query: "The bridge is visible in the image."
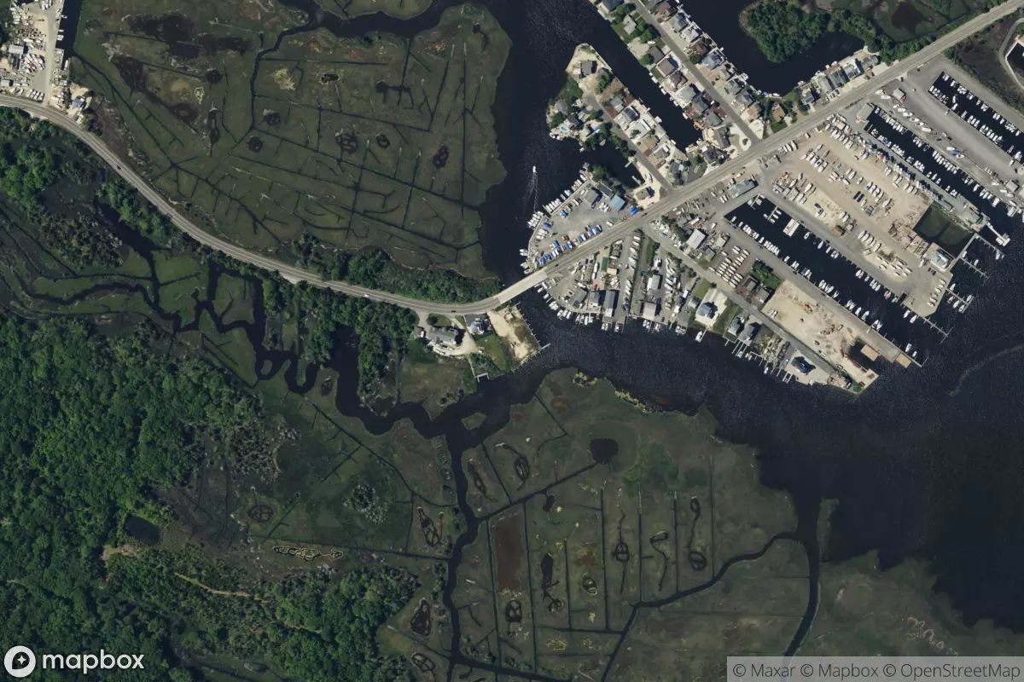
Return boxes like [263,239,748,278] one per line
[495,265,551,304]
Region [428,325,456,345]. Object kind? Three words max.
house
